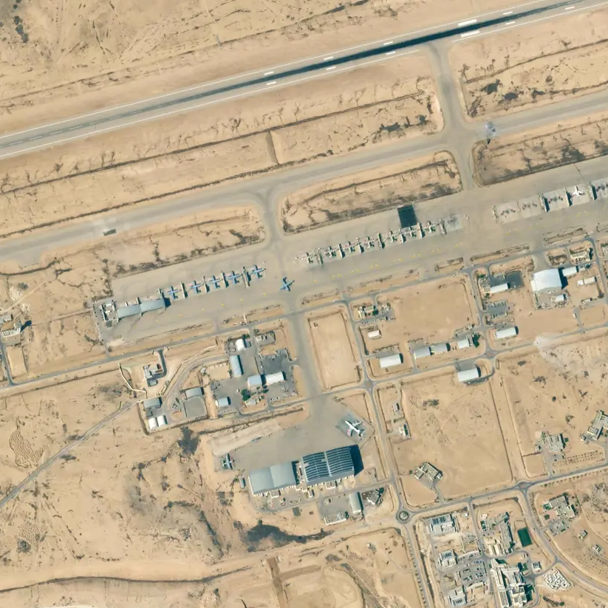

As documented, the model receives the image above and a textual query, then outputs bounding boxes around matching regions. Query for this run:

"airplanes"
[190,280,203,292]
[228,270,240,280]
[209,275,222,286]
[404,225,419,237]
[301,250,315,263]
[362,235,376,247]
[280,277,293,290]
[167,285,179,297]
[343,240,358,252]
[252,265,263,276]
[222,453,234,467]
[323,245,338,257]
[385,230,400,241]
[572,186,584,197]
[423,220,437,232]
